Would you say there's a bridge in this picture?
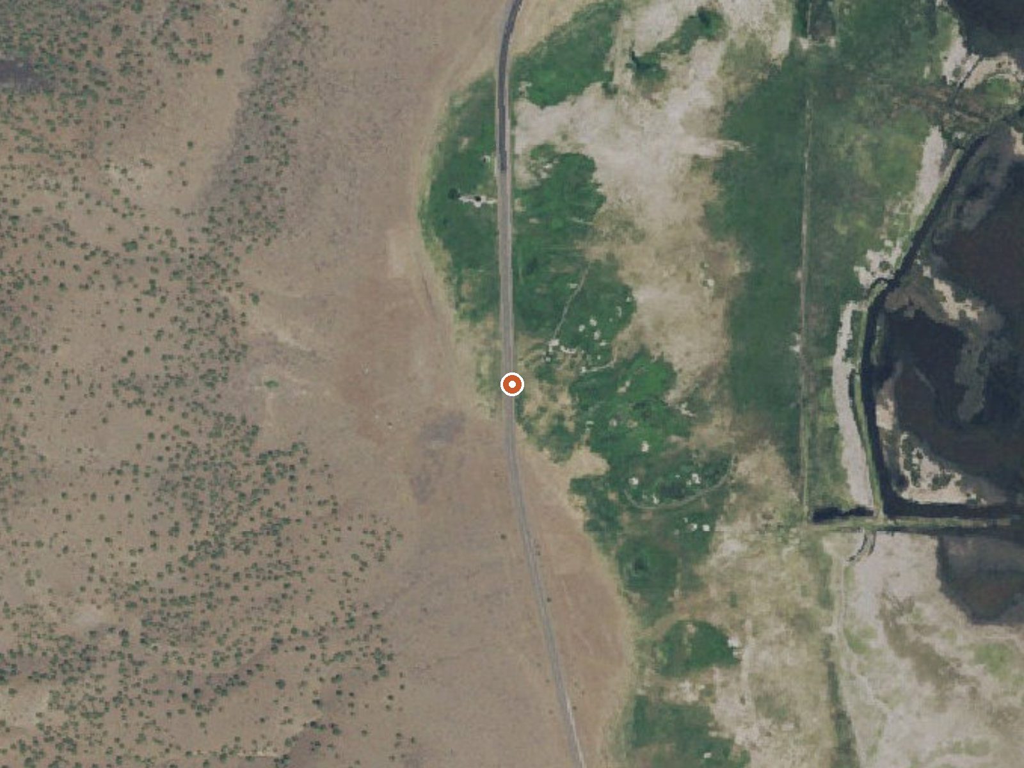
No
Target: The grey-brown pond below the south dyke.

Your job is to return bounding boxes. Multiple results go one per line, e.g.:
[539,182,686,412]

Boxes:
[936,530,1024,626]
